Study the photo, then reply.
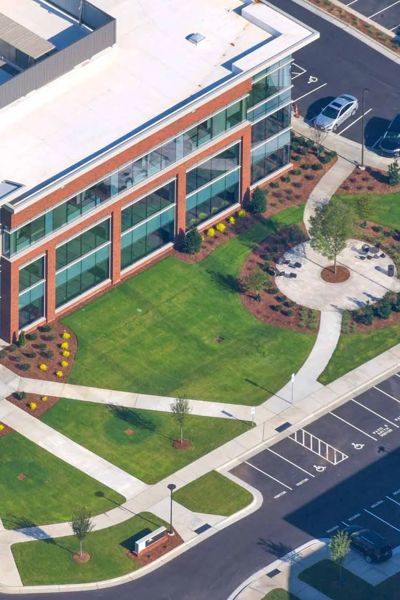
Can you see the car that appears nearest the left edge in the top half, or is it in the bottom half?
top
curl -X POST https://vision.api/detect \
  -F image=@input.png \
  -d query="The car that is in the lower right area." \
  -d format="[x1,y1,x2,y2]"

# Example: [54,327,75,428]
[346,527,395,565]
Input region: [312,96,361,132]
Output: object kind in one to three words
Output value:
car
